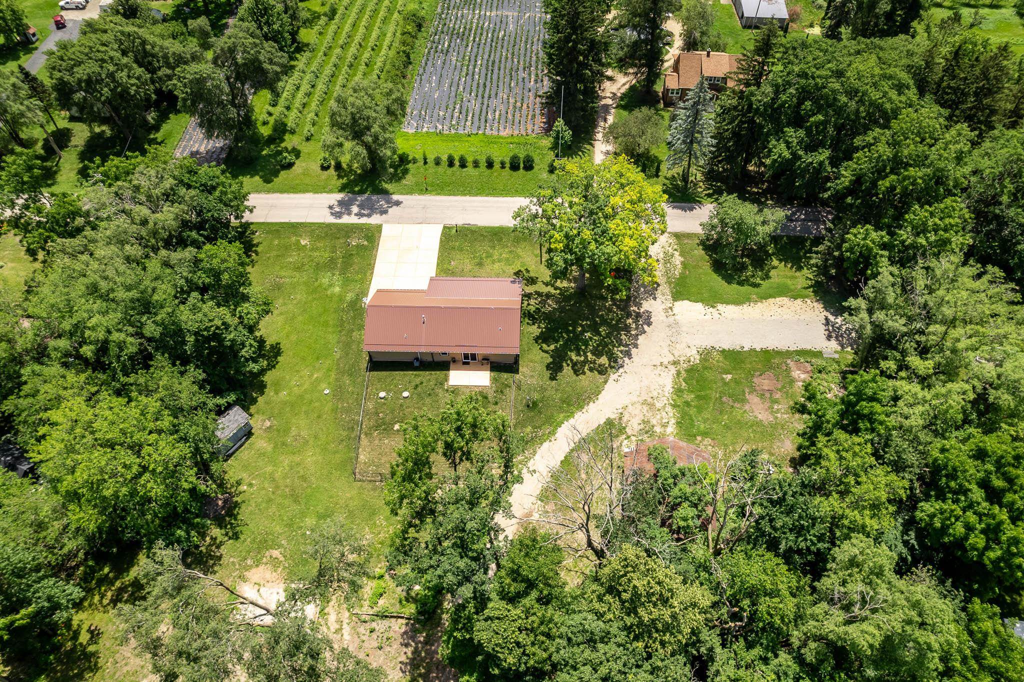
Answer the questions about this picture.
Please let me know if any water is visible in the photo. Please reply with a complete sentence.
No, the scene doesn't show any water.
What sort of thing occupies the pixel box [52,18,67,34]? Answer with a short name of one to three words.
car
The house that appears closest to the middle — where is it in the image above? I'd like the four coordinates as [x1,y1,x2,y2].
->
[363,277,522,365]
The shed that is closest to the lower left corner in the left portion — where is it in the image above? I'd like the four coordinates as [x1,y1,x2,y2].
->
[206,401,255,447]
